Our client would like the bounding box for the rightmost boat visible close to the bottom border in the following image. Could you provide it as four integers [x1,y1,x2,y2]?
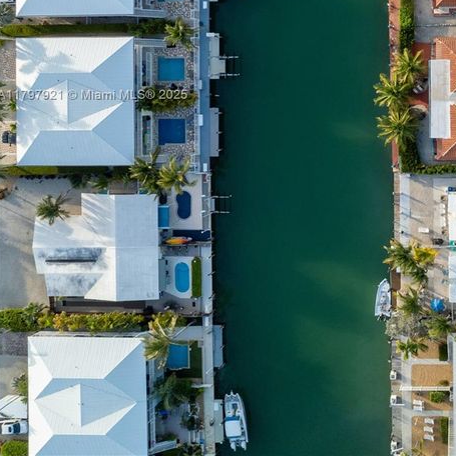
[222,392,248,456]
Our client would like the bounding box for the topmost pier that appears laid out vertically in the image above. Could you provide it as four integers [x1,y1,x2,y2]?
[210,34,226,78]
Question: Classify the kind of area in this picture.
residential area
